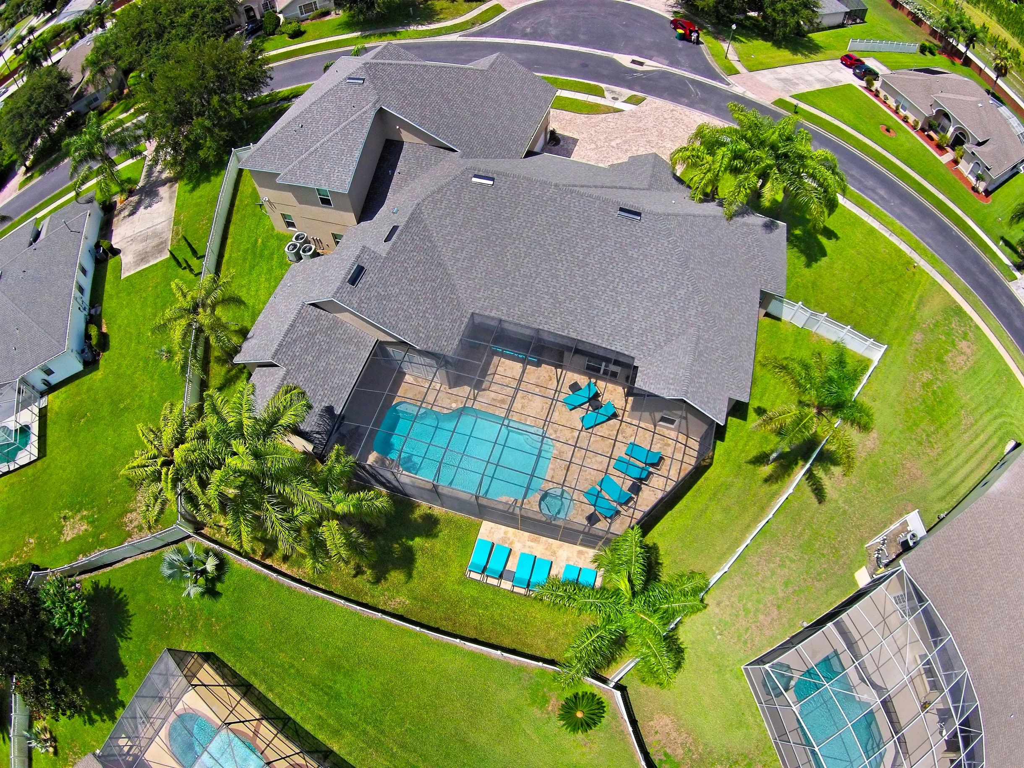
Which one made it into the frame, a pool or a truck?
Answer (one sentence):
The one in the frame is a pool.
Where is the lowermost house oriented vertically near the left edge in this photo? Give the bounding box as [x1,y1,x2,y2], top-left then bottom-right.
[0,190,102,406]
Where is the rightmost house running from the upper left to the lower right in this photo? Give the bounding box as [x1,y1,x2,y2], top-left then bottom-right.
[877,67,1024,190]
